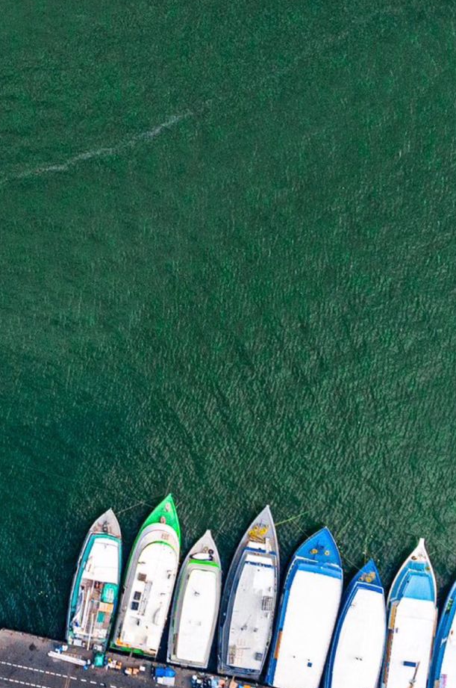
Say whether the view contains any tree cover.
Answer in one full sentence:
No, no tree cover is visible.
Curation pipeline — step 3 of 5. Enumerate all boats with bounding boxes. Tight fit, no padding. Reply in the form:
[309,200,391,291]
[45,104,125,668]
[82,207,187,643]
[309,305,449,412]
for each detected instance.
[167,527,222,667]
[110,494,181,658]
[265,527,343,688]
[217,506,280,680]
[379,536,437,688]
[66,508,122,650]
[324,559,387,688]
[429,582,456,688]
[190,553,213,562]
